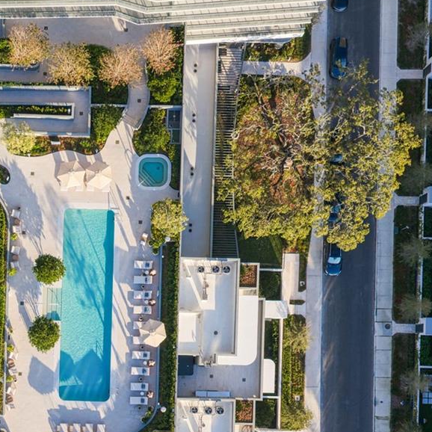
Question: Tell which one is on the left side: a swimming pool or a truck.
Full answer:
You can see a swimming pool on the left side.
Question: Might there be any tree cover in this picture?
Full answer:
Yes, there's tree cover in this view.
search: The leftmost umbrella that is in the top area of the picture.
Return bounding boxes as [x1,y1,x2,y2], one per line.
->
[57,158,83,186]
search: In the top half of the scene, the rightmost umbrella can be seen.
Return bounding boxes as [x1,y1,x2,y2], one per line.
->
[85,160,112,186]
